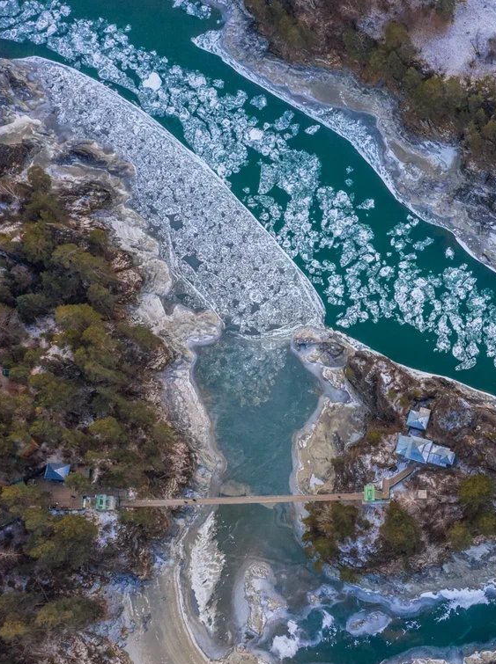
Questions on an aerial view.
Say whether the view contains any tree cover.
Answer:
Yes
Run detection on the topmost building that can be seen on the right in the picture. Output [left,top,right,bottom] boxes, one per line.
[405,409,430,432]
